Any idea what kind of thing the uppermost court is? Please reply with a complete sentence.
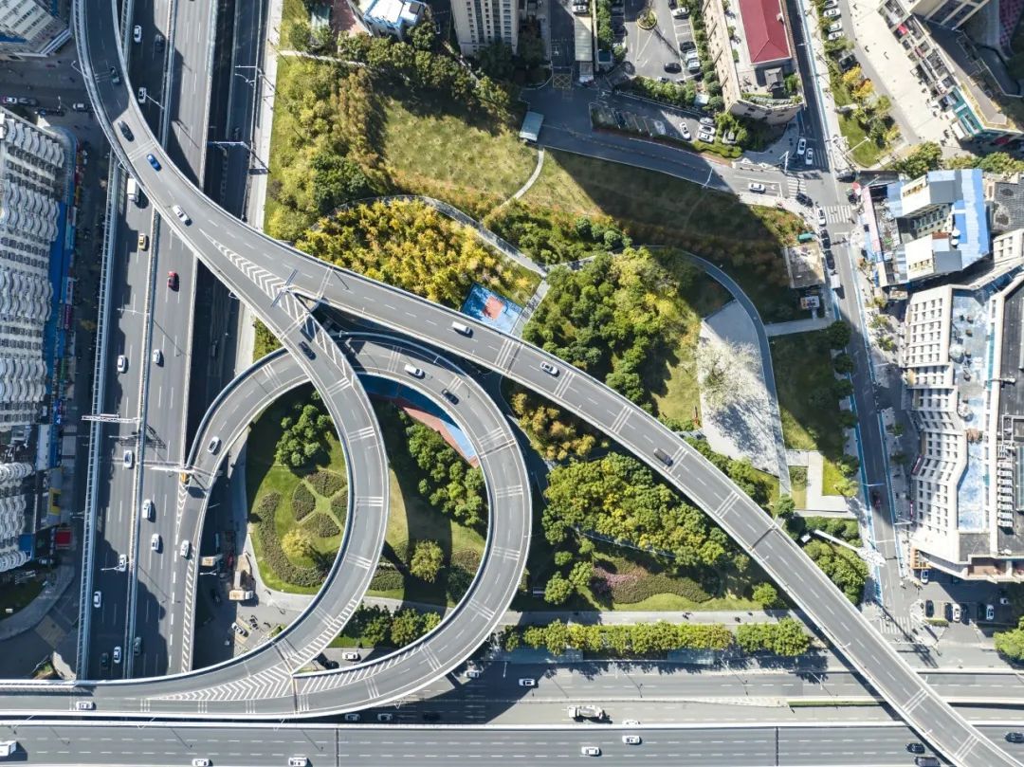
Looking closely, the uppermost court is a basketball court.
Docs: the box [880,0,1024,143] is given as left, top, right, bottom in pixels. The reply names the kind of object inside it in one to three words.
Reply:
building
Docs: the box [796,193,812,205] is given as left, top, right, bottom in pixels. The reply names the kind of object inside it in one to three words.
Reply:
vehicle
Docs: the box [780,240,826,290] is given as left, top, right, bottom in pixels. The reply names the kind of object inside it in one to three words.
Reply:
shed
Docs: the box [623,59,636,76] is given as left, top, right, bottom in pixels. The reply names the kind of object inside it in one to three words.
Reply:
vehicle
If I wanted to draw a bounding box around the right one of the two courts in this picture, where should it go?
[459,285,522,337]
